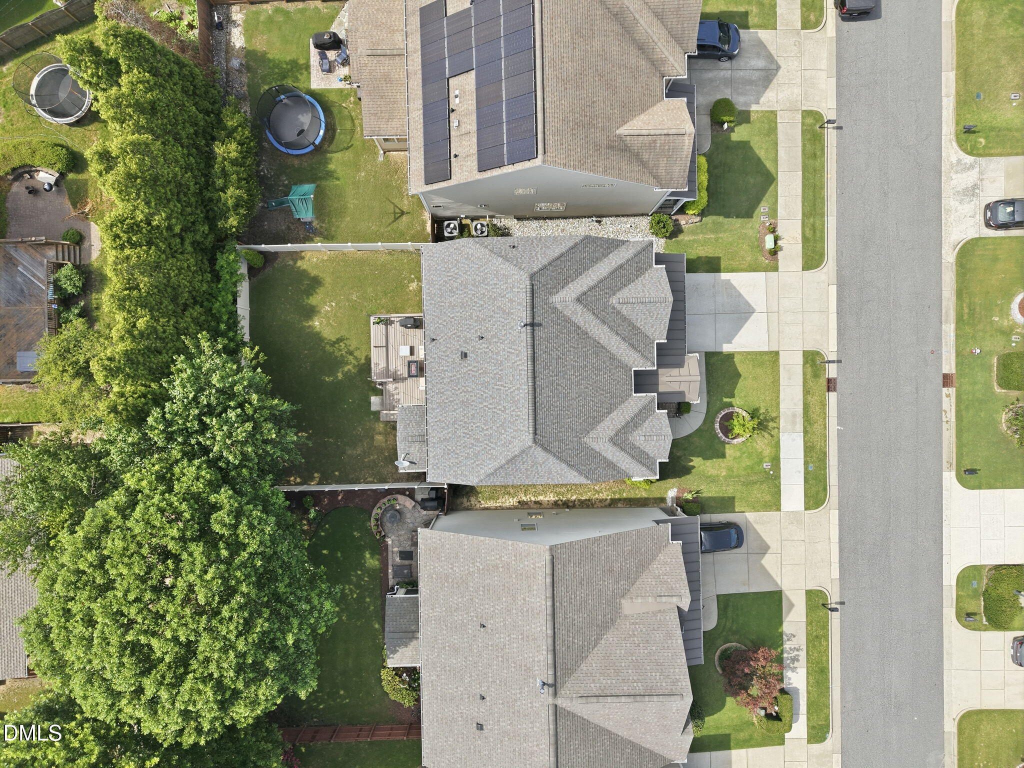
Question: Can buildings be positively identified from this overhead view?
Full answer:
Yes, you can see a building in this photo.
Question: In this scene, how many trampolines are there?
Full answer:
Looking from above, you can make out 2 trampolines.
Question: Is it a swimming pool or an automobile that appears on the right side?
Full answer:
Looking on the right side, you will find an automobile.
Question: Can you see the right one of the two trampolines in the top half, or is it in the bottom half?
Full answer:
It is in the top half that the right one of the two trampolines appears.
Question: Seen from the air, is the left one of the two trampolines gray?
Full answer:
Yes, the left one of the two trampolines is indeed gray.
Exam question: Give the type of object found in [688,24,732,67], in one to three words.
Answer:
van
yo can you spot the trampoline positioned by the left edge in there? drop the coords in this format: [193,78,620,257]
[13,49,99,132]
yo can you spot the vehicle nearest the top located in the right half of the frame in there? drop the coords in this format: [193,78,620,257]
[833,0,874,20]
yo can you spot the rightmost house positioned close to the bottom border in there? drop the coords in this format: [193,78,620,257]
[385,505,705,768]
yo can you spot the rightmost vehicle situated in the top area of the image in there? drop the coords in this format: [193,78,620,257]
[984,202,1024,234]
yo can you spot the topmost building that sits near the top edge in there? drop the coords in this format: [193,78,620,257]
[346,0,702,220]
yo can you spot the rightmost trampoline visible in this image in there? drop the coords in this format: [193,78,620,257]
[254,79,330,160]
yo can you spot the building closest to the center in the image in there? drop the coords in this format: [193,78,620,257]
[370,236,702,486]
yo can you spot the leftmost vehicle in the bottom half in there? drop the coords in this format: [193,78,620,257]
[701,519,744,550]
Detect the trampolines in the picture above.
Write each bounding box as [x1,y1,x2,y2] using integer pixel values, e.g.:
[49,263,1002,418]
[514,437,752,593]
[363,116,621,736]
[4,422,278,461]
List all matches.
[254,79,330,160]
[13,49,99,132]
